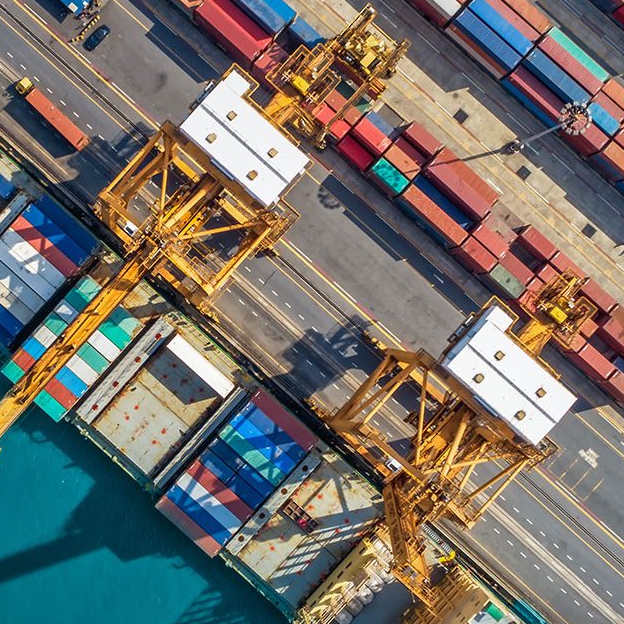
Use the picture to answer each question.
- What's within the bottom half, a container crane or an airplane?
container crane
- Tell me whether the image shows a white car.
No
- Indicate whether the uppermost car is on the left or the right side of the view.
left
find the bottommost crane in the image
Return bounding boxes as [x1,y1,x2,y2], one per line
[294,266,604,618]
